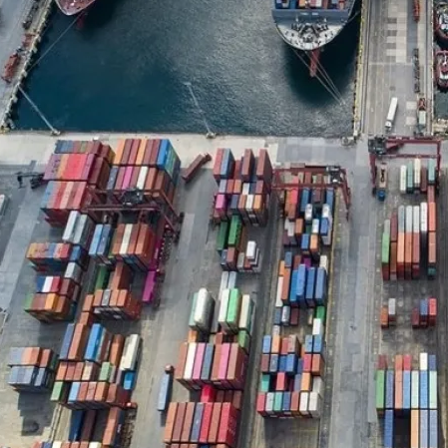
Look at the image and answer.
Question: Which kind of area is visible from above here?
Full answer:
The picture captures a port.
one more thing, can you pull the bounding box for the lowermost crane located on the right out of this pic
[268,164,351,215]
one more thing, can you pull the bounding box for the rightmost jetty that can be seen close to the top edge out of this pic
[350,0,437,138]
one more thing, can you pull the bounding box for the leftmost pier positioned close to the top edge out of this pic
[0,0,48,137]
